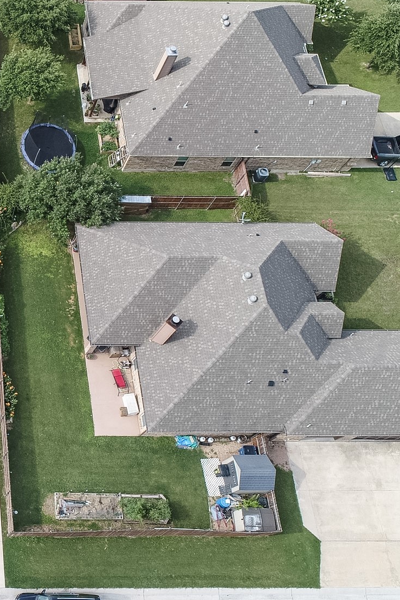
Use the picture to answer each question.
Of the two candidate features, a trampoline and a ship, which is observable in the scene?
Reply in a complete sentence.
This aerial view contains a trampoline.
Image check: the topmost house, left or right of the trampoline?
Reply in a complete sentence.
The topmost house can be seen on the right of the trampoline.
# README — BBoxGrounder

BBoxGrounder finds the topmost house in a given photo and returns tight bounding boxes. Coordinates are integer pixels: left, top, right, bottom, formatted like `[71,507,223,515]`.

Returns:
[81,0,382,175]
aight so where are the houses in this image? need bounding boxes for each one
[81,0,382,175]
[75,211,400,442]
